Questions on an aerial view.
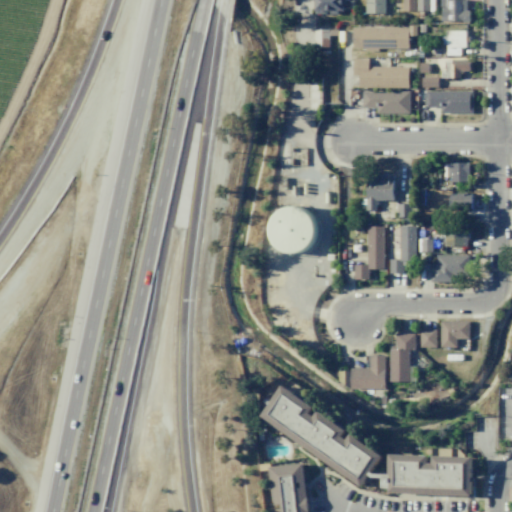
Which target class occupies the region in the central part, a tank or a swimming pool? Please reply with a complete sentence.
Looking in the central part, you will find a tank.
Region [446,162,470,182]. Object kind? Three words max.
house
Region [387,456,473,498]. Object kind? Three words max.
building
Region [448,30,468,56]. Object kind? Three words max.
house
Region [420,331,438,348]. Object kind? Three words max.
building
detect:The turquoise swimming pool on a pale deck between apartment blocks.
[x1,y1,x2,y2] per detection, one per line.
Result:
[266,437,294,462]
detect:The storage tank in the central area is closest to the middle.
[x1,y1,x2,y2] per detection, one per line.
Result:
[268,206,318,254]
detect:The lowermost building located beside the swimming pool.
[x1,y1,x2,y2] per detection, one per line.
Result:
[270,464,310,512]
